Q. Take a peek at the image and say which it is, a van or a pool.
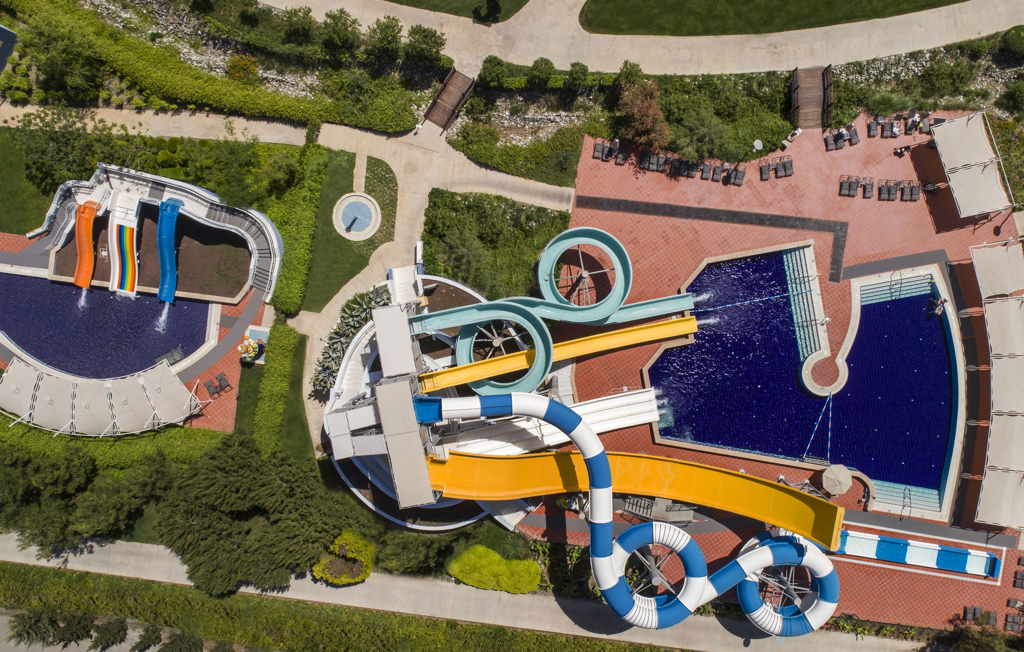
pool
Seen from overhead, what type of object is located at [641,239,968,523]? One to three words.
swimming pool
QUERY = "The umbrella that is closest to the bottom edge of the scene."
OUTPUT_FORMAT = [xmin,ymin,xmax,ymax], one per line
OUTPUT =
[818,464,852,495]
